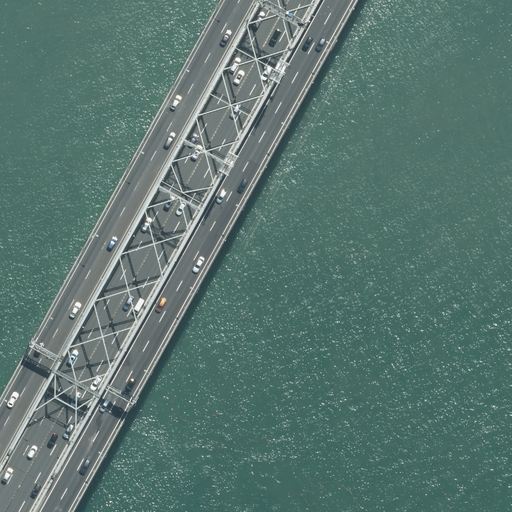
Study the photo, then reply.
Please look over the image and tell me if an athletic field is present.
No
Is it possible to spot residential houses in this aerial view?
No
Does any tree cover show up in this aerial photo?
No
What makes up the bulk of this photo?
water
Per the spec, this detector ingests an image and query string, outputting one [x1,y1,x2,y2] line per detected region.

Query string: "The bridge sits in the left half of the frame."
[0,0,358,512]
